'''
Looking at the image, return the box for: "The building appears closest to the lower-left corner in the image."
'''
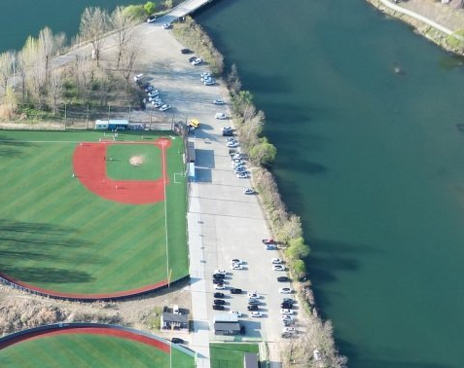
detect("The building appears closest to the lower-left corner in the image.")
[164,309,189,332]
